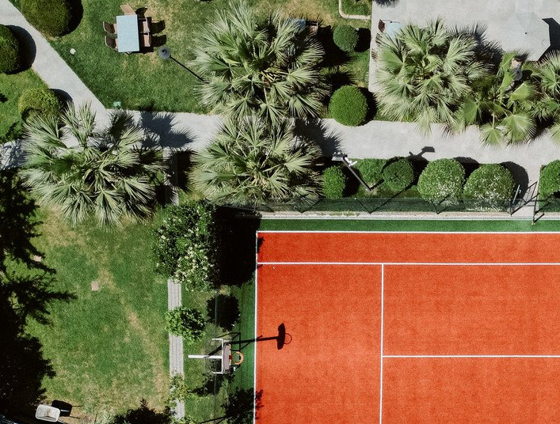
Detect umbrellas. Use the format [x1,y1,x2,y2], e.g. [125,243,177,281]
[502,11,550,59]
